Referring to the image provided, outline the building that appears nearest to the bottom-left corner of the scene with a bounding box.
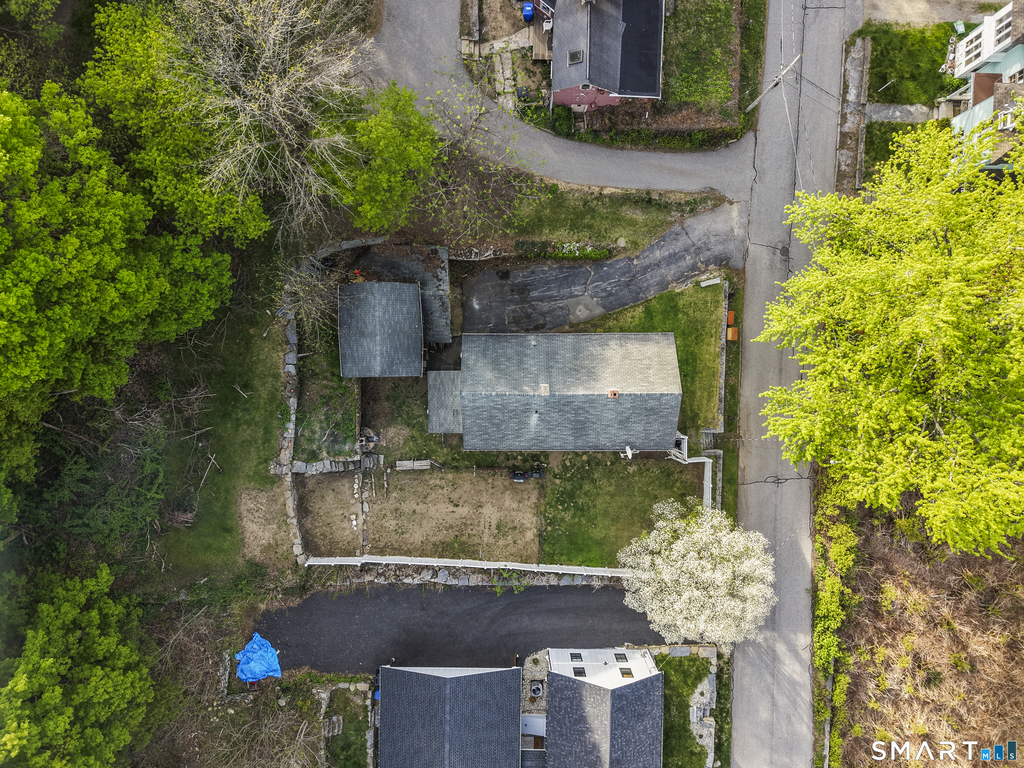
[378,650,522,768]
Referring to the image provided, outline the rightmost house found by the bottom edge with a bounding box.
[521,650,664,768]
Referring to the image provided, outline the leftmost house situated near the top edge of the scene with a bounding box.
[529,0,664,116]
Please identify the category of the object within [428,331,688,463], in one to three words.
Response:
house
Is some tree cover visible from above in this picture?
Yes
